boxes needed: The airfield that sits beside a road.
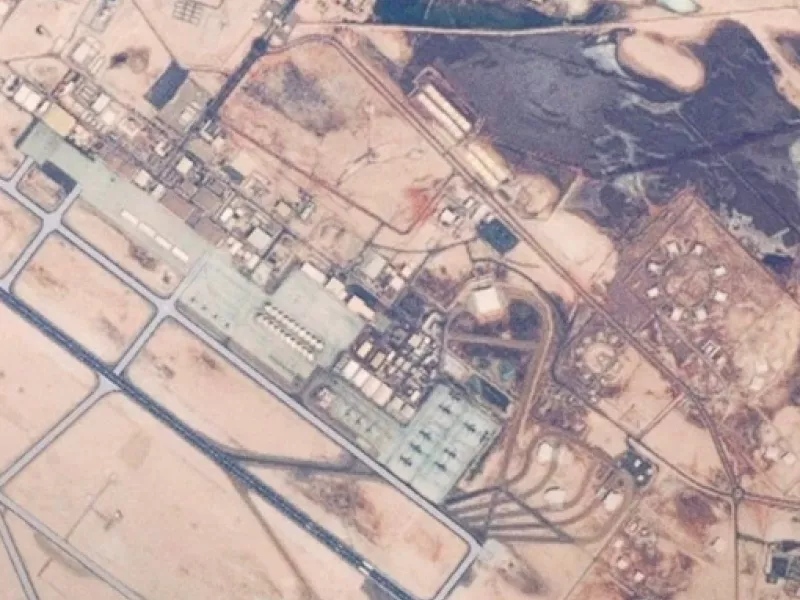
[0,120,499,600]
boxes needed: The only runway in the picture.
[0,287,415,600]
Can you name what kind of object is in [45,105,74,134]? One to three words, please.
building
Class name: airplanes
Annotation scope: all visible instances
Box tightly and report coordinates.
[464,422,474,432]
[420,430,430,441]
[410,443,420,453]
[446,448,456,459]
[434,462,445,472]
[439,405,449,415]
[401,456,411,466]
